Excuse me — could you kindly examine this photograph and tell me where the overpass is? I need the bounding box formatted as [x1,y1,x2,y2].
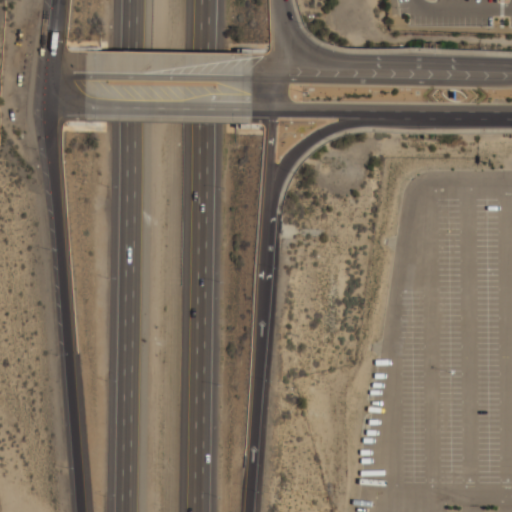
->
[64,42,268,135]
